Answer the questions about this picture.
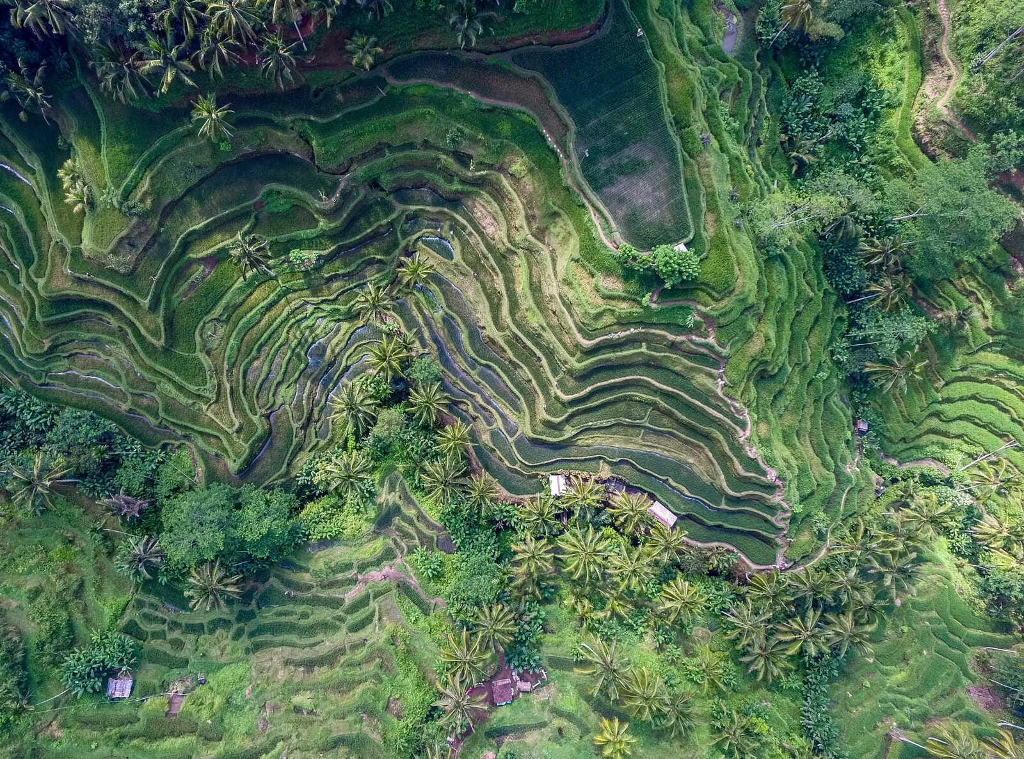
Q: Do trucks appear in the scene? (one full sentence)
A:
No, there's no truck here.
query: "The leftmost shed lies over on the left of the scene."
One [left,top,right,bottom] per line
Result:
[107,675,136,697]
